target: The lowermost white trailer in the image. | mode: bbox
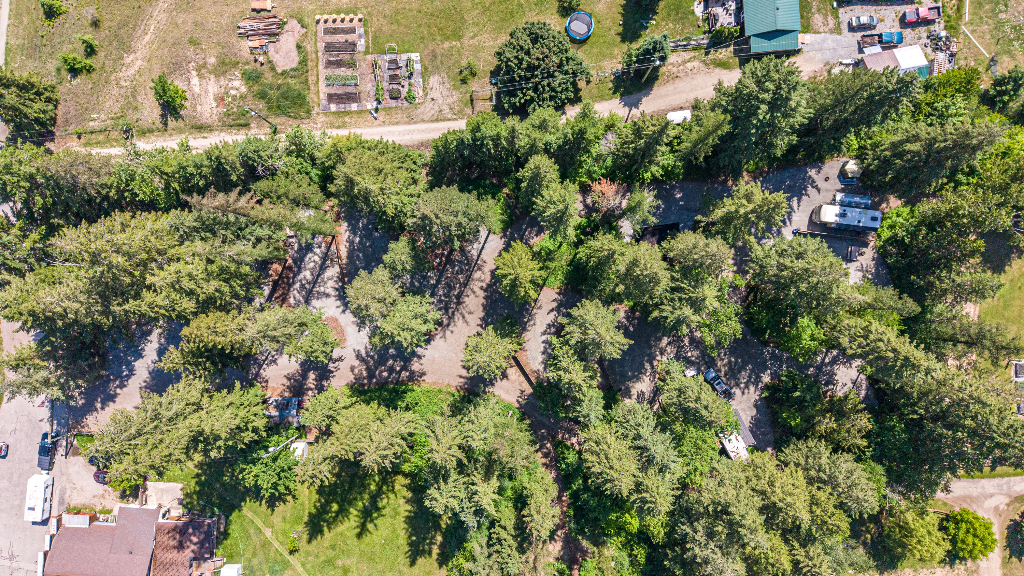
[22,470,52,527]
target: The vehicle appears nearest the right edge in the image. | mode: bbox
[903,6,944,24]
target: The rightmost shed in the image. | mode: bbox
[863,43,938,80]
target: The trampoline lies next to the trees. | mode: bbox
[567,8,595,39]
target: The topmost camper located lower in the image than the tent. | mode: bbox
[812,192,888,231]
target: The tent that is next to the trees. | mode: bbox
[840,160,864,180]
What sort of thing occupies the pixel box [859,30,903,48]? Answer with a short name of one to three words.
vehicle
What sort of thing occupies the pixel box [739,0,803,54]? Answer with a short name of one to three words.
building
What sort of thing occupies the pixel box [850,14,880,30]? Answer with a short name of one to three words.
car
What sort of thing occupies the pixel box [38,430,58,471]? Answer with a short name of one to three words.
vehicle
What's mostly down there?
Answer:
trees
